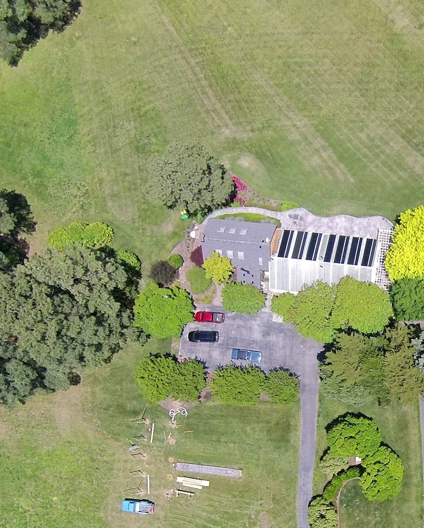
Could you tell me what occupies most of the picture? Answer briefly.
grass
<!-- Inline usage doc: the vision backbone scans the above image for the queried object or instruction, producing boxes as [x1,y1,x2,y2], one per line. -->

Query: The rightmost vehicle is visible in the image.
[230,349,262,362]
